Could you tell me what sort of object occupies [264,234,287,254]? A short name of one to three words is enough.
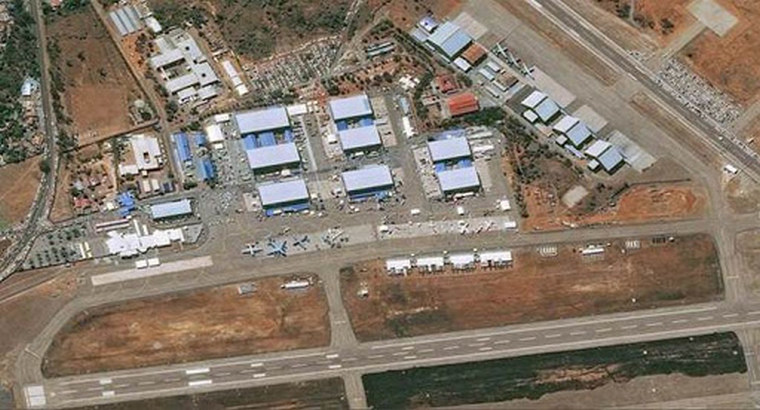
airplane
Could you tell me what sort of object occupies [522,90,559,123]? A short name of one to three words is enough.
hangar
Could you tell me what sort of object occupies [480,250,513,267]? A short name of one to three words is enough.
house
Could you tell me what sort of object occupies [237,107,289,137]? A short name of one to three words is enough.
building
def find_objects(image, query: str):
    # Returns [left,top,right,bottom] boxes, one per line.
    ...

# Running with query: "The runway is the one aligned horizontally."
[22,303,760,410]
